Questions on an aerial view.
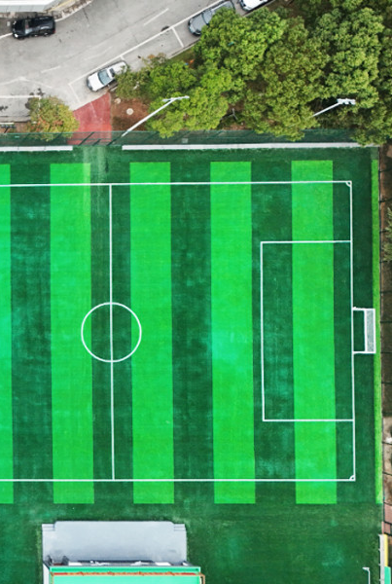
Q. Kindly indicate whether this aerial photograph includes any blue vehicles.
No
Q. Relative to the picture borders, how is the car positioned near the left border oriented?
horizontally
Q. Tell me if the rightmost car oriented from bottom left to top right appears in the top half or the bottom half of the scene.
top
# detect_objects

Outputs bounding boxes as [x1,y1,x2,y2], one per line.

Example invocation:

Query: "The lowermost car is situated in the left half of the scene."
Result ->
[83,58,131,94]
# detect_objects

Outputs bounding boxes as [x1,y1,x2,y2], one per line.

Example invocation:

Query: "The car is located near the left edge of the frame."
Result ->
[9,15,57,40]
